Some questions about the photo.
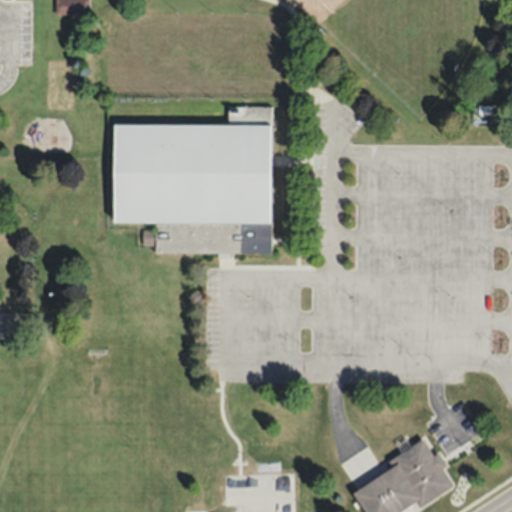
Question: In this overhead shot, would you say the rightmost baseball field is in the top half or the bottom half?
top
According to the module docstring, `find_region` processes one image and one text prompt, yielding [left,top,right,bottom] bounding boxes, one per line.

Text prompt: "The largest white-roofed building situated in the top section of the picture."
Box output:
[113,108,273,254]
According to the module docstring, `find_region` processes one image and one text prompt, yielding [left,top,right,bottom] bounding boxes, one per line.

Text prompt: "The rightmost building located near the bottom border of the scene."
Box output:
[355,439,458,512]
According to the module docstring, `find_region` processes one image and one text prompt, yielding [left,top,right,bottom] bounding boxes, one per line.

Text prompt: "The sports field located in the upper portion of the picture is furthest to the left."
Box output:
[106,11,288,98]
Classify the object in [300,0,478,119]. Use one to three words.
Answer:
baseball field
